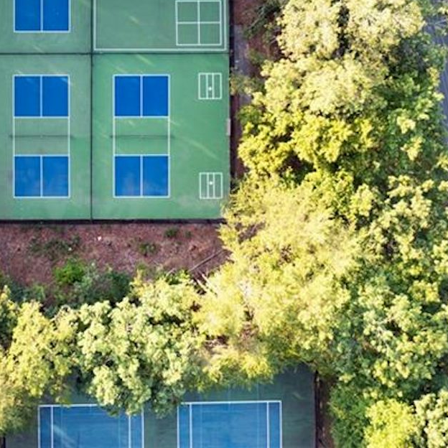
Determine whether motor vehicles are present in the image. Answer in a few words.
No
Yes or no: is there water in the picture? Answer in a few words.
No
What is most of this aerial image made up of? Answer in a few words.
trees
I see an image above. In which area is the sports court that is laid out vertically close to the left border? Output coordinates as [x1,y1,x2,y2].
[13,75,70,198]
